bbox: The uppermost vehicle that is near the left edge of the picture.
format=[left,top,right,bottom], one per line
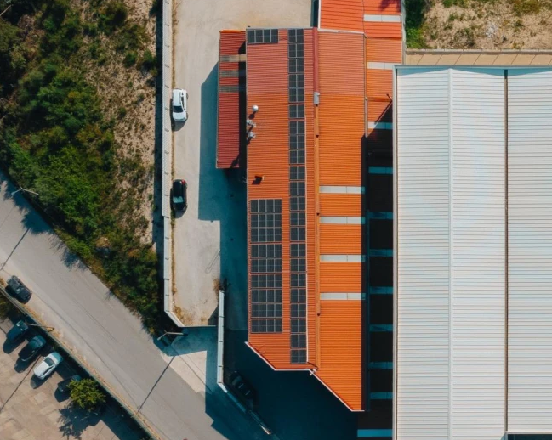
[2,274,34,304]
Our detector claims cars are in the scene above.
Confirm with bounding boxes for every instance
[171,89,188,121]
[33,350,64,382]
[170,181,187,213]
[16,332,49,365]
[1,319,32,351]
[54,371,85,402]
[2,274,34,304]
